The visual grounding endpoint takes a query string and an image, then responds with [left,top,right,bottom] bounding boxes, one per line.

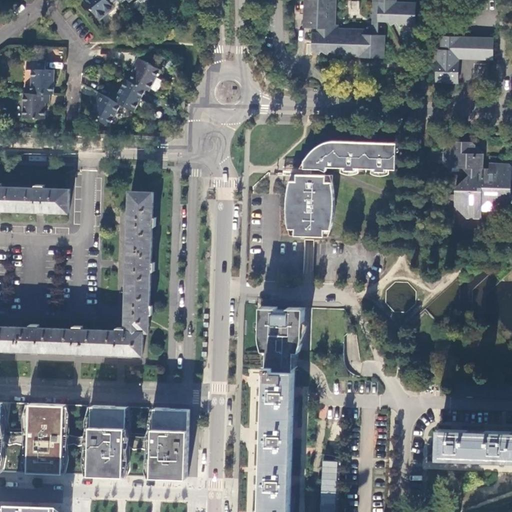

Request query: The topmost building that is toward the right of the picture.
[303,0,417,58]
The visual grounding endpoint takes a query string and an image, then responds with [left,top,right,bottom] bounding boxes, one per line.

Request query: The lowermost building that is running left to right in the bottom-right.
[433,426,512,466]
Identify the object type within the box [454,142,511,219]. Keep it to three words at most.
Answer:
house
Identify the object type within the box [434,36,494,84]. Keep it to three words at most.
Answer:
house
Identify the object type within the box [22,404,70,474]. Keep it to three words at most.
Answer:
building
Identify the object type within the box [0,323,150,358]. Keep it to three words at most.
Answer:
building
